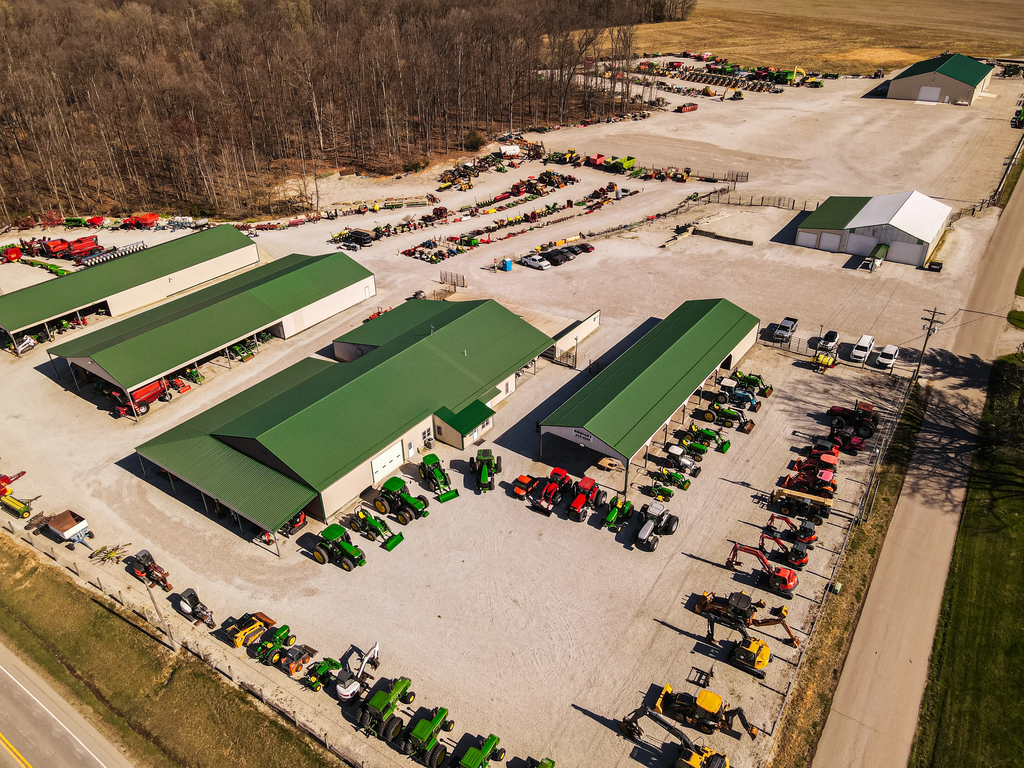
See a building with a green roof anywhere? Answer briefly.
Yes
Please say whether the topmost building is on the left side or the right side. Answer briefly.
right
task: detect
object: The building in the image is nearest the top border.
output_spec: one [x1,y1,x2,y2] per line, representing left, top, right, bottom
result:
[887,53,993,105]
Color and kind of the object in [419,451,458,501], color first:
green work vehicle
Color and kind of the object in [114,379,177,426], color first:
red work vehicle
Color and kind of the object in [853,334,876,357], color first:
white car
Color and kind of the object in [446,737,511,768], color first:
green work vehicle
